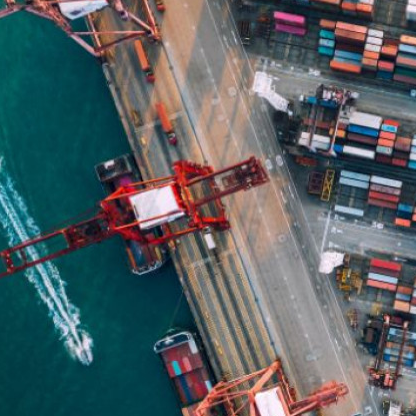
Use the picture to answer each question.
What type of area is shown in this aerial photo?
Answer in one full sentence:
What you see here is a port.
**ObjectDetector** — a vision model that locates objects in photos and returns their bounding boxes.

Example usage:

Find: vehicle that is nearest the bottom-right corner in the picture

[377,397,390,416]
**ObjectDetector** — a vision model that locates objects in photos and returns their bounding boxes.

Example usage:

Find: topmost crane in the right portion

[307,83,354,164]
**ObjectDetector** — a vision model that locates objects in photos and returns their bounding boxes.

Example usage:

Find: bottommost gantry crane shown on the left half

[0,155,272,284]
